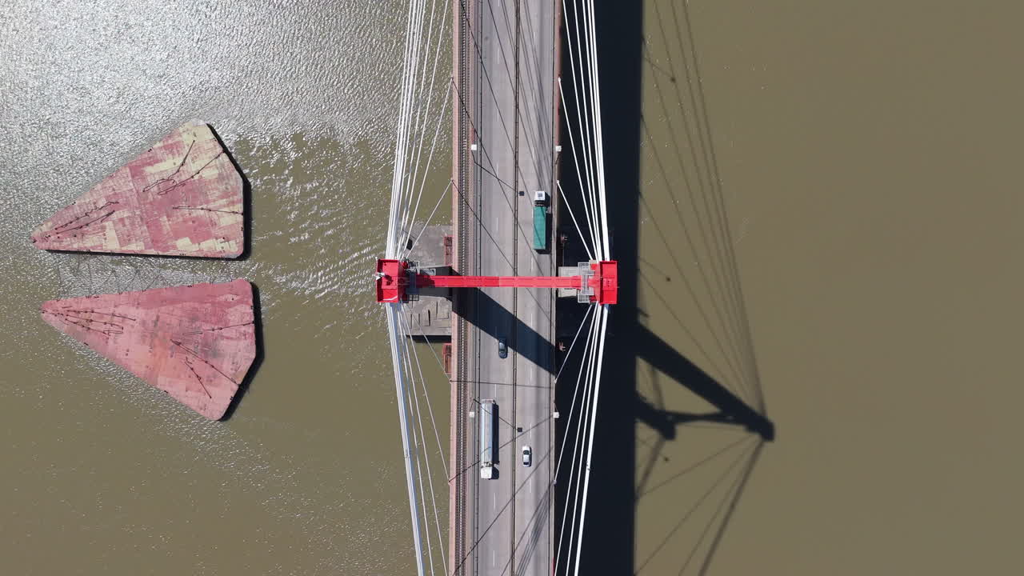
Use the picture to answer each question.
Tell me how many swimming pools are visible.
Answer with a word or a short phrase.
0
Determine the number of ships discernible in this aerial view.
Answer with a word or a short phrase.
two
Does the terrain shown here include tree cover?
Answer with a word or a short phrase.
No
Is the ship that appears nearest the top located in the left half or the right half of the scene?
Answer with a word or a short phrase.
left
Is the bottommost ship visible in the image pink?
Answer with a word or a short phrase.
Yes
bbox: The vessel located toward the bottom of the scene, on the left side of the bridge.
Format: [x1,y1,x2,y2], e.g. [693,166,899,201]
[39,279,258,420]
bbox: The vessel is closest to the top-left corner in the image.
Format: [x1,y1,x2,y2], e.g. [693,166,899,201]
[31,119,246,258]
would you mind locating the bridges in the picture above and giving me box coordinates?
[371,0,620,576]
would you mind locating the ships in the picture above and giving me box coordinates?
[39,279,258,420]
[31,119,246,258]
